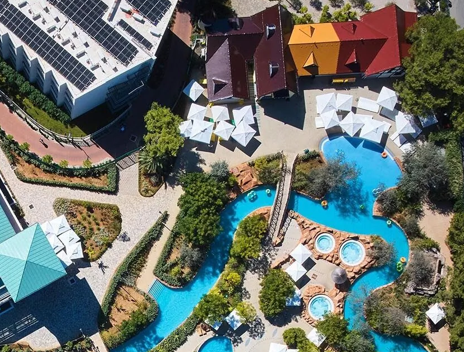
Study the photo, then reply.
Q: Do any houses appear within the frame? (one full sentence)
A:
Yes, you can see a house in this photo.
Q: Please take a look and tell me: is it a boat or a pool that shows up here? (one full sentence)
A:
The one in the frame is a pool.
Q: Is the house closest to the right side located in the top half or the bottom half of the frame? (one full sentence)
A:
The house closest to the right side sits in the top half of the picture.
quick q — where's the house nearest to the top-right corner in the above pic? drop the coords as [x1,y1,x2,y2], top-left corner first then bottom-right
[285,4,418,83]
